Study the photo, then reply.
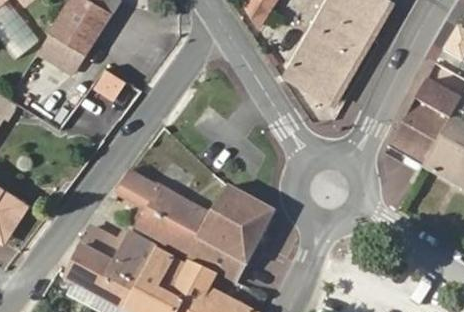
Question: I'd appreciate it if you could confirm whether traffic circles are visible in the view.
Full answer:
Yes, the photo shows a traffic circle.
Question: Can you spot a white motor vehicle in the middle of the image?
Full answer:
Yes, you'll find a white motor vehicle in the middle of the image.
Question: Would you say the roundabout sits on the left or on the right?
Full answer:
The roundabout appears in the right half of the scene.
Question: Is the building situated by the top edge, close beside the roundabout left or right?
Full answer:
The building situated by the top edge, close beside the roundabout appears in the right half of the scene.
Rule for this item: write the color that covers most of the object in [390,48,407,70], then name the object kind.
gray car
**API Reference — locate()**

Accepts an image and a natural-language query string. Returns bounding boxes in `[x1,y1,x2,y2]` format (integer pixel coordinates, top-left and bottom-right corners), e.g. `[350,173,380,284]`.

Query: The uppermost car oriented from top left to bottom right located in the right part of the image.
[416,228,437,246]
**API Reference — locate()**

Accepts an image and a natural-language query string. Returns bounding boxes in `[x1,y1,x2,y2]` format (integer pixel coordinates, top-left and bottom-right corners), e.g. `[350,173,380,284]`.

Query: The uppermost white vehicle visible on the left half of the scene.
[72,80,90,96]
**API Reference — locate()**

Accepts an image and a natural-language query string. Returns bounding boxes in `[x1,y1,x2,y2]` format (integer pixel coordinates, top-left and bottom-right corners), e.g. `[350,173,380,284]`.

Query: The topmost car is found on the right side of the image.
[282,28,302,52]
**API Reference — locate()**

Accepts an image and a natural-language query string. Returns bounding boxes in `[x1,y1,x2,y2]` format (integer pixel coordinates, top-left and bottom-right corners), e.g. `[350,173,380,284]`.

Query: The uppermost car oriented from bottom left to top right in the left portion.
[42,90,62,111]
